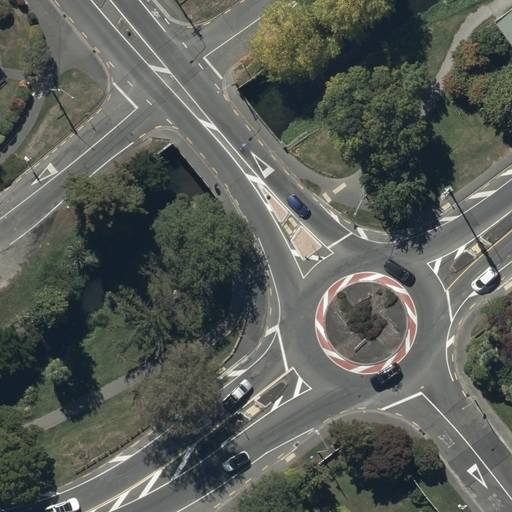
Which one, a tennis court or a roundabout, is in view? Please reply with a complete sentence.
The one in the frame is a roundabout.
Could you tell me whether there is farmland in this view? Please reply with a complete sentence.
No, there is no farmland in the image.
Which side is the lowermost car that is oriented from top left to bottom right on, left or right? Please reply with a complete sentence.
It is on the right.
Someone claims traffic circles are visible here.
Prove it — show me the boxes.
[316,272,418,374]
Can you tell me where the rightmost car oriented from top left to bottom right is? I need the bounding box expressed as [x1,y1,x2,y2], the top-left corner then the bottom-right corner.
[384,259,415,286]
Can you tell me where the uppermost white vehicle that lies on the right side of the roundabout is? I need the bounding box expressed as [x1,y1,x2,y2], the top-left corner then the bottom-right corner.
[470,266,498,292]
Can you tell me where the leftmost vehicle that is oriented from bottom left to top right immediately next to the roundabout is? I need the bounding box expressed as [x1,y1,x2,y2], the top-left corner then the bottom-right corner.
[372,364,402,388]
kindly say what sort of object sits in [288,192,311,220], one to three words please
car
